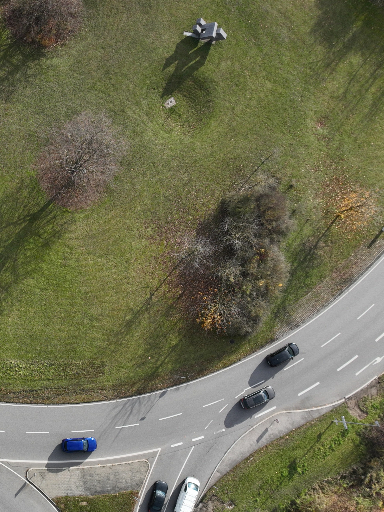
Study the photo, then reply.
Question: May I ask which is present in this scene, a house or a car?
car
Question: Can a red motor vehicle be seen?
No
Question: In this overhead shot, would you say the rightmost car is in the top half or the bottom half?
bottom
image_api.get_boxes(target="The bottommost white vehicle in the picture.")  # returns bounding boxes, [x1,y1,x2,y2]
[174,475,200,512]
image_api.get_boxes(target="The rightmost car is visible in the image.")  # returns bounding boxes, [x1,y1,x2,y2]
[263,342,299,367]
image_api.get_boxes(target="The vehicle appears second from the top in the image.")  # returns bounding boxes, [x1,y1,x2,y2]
[237,385,275,410]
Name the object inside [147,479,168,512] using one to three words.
car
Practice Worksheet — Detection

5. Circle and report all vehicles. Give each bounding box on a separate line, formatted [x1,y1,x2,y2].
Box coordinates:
[147,479,168,512]
[263,342,299,367]
[237,385,275,410]
[61,436,97,454]
[174,475,200,512]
